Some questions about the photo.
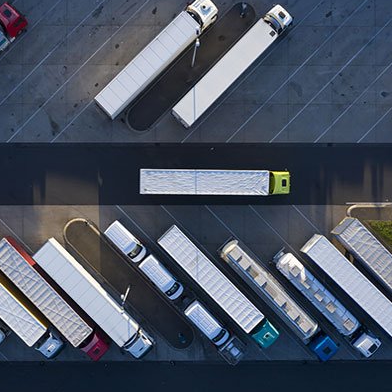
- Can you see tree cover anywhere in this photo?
No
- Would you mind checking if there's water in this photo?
No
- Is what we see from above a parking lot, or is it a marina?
parking lot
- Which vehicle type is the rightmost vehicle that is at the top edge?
truck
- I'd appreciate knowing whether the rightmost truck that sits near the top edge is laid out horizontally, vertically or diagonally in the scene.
diagonally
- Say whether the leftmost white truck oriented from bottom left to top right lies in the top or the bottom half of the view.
top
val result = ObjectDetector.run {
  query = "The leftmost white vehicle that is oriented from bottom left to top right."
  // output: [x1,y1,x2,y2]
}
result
[95,0,218,119]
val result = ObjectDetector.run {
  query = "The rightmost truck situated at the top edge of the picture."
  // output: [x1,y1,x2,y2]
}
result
[171,3,294,129]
